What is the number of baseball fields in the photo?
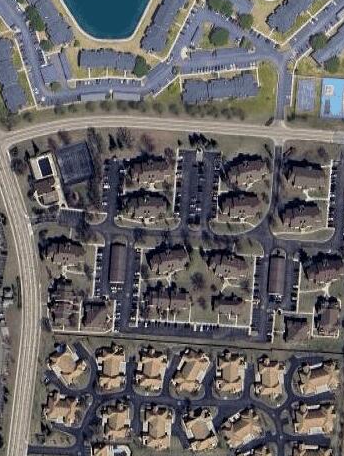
none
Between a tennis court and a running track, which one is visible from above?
tennis court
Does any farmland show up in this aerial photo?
No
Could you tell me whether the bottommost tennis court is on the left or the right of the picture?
left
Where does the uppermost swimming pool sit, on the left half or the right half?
left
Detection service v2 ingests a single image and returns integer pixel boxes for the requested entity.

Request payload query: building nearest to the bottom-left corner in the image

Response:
[43,394,82,423]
